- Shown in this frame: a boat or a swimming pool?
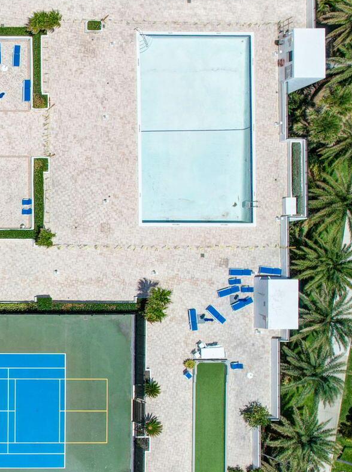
swimming pool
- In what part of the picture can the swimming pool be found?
top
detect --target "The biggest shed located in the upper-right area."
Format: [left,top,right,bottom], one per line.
[278,28,326,85]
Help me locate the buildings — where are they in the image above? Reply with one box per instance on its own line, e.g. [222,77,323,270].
[254,279,298,329]
[275,198,295,214]
[278,28,326,85]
